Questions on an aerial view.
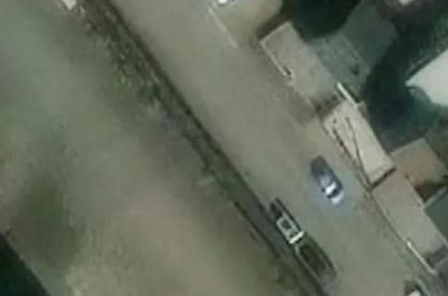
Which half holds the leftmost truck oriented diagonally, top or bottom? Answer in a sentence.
The leftmost truck oriented diagonally is in the bottom half of the image.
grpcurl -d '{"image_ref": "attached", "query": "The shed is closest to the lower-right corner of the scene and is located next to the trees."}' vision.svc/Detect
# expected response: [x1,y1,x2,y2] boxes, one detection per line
[392,138,447,188]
